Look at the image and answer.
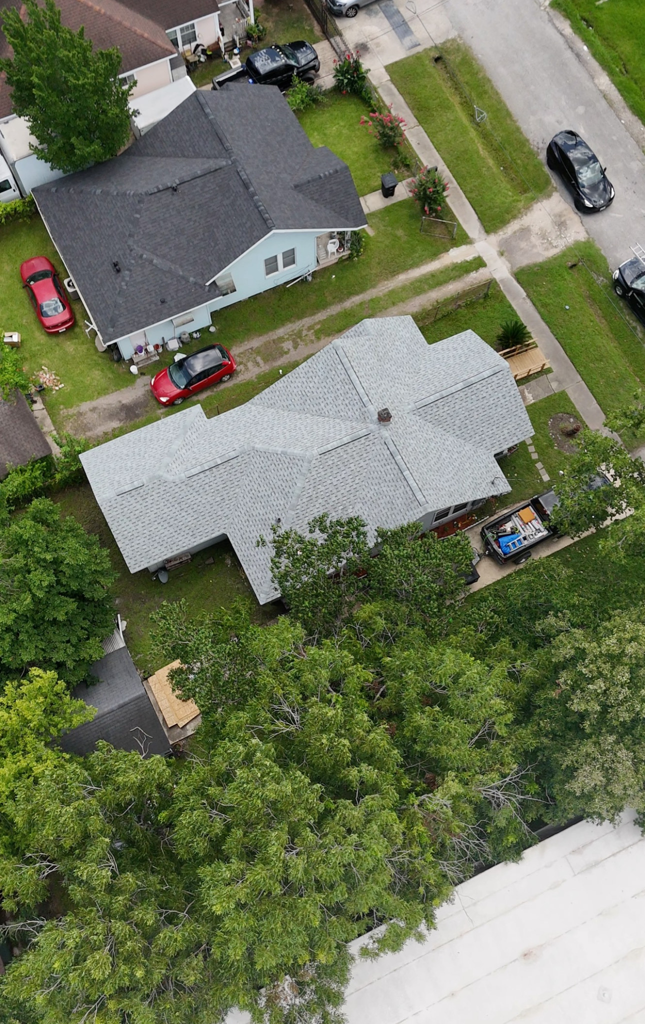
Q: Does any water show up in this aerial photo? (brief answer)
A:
No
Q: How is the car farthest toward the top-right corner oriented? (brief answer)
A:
on a diagonal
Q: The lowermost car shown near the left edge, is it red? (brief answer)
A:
Yes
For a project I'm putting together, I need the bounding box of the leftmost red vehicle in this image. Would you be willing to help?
[16,252,80,330]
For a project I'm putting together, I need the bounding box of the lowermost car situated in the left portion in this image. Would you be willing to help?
[152,334,238,401]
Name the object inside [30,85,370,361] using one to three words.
house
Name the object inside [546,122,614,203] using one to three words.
car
